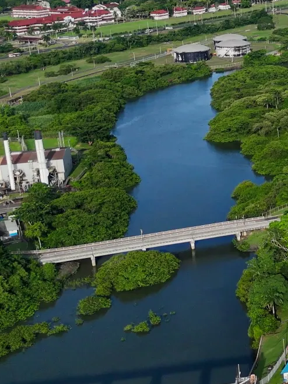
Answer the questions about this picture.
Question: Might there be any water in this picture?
Yes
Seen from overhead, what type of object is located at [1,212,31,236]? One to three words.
shed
